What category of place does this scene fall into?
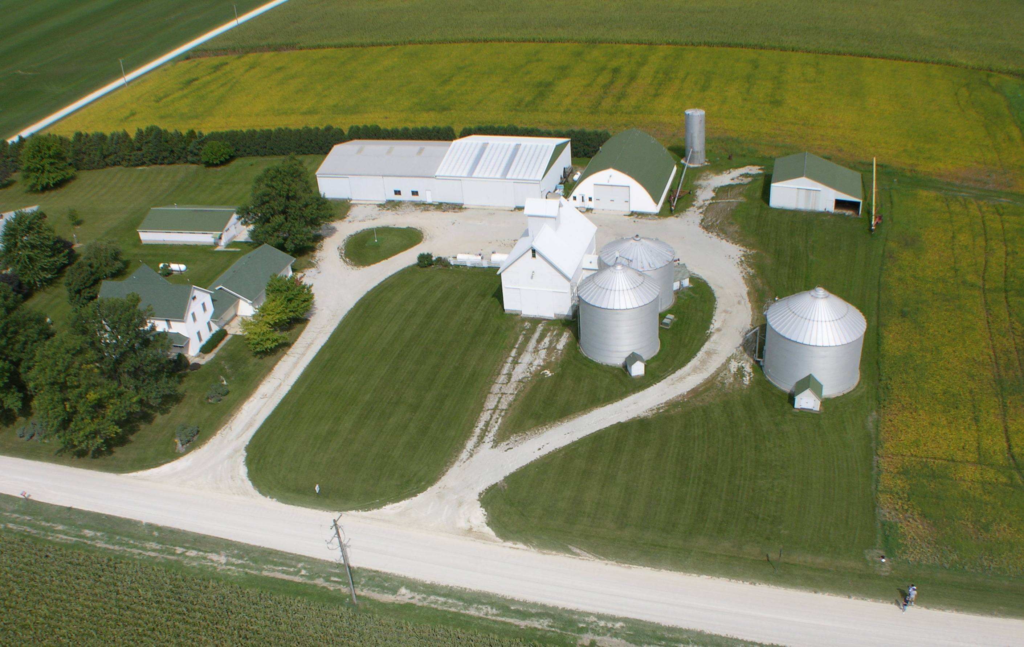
industrial area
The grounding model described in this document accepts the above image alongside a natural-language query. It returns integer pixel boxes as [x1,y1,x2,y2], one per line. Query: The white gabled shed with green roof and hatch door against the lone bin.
[793,377,823,412]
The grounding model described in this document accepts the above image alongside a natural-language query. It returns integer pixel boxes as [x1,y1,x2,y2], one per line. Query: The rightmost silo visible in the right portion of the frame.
[759,290,867,400]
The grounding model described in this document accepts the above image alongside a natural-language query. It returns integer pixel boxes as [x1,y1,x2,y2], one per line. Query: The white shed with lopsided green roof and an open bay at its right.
[768,150,869,215]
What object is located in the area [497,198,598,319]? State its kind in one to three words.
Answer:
barn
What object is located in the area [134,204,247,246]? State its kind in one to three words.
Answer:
shed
